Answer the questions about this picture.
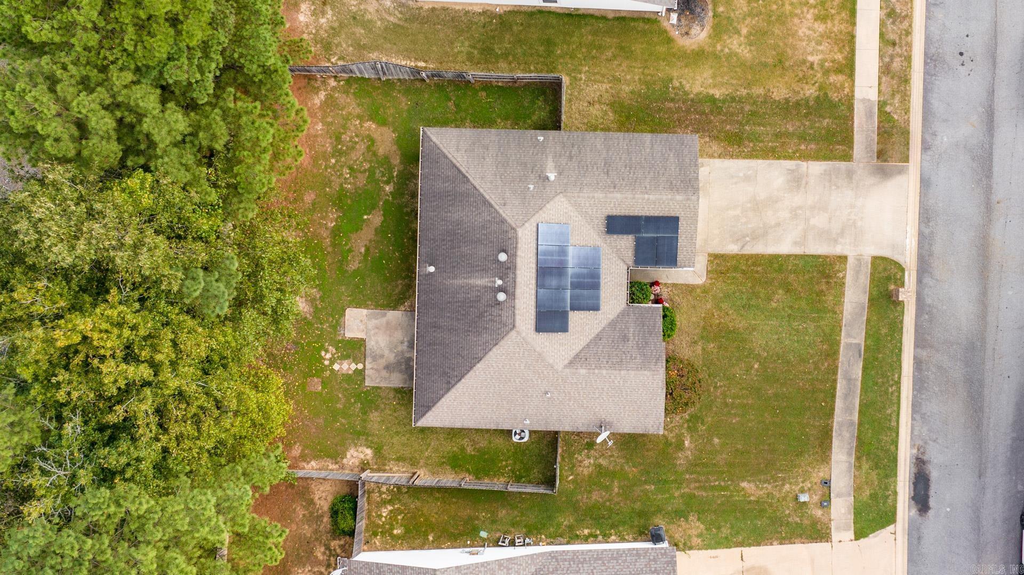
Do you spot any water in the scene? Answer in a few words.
No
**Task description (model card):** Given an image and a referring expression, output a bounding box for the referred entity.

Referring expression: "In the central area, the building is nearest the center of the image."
[412,127,699,434]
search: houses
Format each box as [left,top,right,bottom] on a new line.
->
[419,0,677,21]
[342,543,678,575]
[412,127,699,434]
